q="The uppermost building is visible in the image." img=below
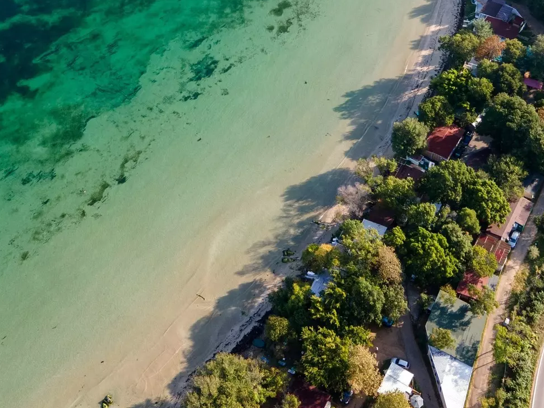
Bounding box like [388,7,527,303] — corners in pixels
[476,0,526,40]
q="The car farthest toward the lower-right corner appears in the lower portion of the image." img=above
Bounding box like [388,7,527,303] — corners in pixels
[389,354,412,371]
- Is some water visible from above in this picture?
Yes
